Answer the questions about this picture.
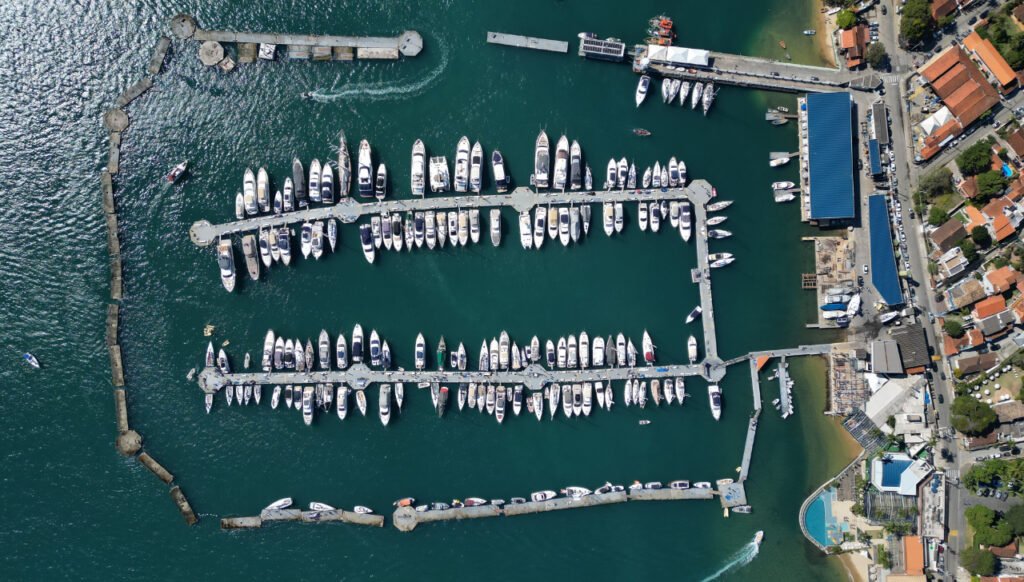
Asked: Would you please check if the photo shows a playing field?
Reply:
No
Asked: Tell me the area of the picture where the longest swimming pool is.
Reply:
bottom right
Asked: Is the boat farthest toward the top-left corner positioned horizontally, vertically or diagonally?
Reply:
diagonally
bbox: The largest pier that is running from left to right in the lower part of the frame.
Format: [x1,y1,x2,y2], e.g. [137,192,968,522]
[199,356,726,393]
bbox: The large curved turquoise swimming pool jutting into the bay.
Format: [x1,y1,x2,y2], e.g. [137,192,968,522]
[797,449,866,554]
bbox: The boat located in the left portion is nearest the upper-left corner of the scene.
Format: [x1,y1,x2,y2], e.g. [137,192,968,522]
[167,160,188,183]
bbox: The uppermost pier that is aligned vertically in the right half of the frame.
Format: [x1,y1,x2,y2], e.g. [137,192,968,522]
[690,205,718,357]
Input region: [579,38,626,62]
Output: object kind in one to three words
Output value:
ship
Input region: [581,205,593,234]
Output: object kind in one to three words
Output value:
boat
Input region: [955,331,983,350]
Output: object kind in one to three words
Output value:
house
